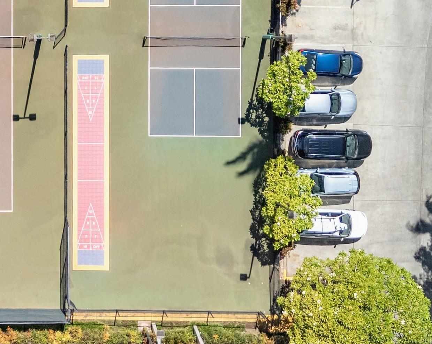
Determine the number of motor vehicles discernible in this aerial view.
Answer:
5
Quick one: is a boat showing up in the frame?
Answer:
No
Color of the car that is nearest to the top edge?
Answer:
blue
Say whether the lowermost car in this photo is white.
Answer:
Yes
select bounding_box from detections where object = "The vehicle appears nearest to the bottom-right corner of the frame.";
[294,209,366,244]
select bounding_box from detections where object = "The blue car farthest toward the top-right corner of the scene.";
[296,47,362,81]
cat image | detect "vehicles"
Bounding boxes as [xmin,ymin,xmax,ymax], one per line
[294,209,366,244]
[287,85,358,119]
[293,128,370,163]
[291,167,359,201]
[296,47,362,81]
